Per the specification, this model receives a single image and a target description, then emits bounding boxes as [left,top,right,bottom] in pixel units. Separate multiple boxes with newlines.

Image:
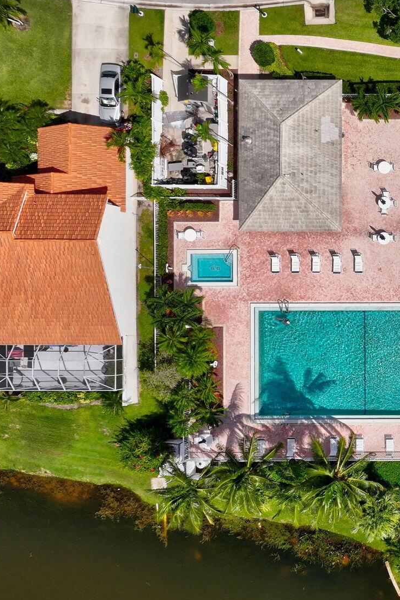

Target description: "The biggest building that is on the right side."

[238,74,343,231]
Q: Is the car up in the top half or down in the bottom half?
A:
top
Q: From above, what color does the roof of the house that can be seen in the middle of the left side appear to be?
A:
orange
